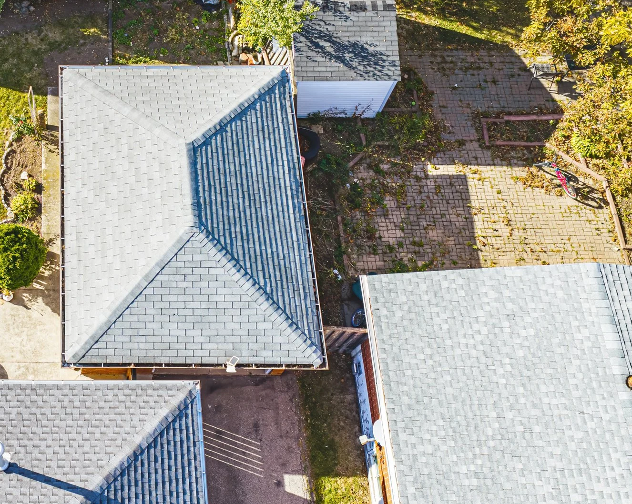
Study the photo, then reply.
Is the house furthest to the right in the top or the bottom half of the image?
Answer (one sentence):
The bottom half of the photo is where the house furthest to the right is.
